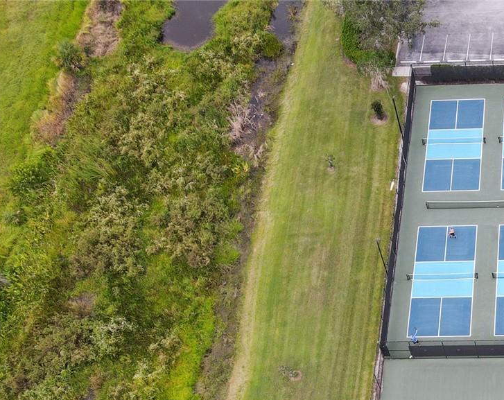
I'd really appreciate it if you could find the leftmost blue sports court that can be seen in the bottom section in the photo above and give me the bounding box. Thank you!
[406,224,478,337]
